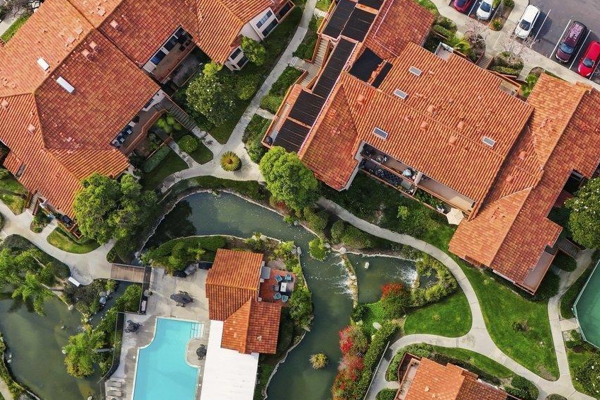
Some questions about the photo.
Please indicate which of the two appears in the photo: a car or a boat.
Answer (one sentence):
The image shows a car.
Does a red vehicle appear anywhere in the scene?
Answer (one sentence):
Yes, the frame does contain a red vehicle.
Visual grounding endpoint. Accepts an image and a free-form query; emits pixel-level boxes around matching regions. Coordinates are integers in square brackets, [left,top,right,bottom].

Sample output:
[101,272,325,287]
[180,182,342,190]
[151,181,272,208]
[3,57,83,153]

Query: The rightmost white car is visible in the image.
[513,2,541,42]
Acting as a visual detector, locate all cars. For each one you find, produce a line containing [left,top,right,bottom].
[448,0,473,23]
[473,0,495,24]
[554,20,588,65]
[576,40,600,80]
[513,2,541,42]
